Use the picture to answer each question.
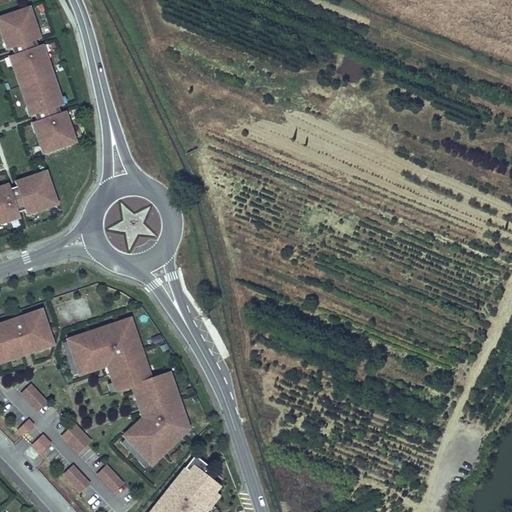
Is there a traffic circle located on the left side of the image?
Yes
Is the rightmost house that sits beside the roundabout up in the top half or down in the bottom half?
bottom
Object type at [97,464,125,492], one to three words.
building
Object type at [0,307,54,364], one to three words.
house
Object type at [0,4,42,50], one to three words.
house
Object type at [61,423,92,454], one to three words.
building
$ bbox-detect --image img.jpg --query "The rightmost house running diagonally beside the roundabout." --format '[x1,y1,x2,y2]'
[66,315,191,468]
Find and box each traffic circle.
[83,175,182,274]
